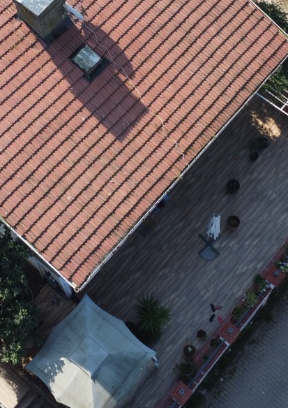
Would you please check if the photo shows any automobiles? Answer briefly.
No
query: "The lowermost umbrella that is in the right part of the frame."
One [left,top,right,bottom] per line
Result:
[194,215,223,271]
